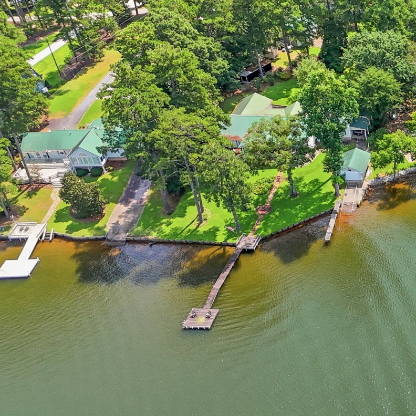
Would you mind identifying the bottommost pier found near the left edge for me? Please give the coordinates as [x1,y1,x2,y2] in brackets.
[0,221,44,279]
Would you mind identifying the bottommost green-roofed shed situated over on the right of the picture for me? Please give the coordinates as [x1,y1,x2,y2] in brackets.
[339,146,372,190]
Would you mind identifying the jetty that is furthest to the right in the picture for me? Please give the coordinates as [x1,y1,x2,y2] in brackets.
[320,197,344,244]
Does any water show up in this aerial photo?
Yes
